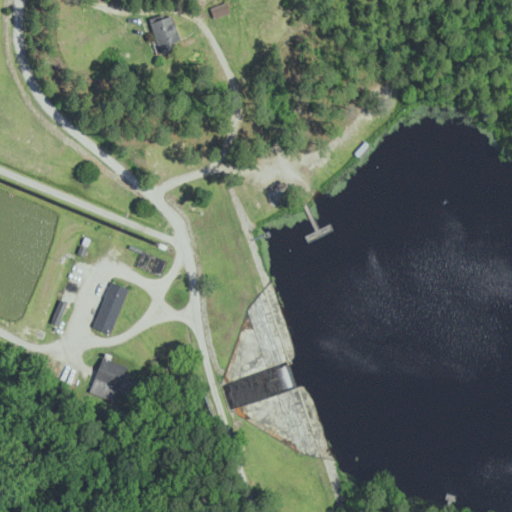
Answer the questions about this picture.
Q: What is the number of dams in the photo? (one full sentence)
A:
In total, 1 dam can be seen.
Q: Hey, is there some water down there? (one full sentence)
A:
Yes, some water is visible.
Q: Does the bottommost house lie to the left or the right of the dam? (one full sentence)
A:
Relative to the dam, the bottommost house is on the left.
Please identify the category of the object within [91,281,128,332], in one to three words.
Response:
building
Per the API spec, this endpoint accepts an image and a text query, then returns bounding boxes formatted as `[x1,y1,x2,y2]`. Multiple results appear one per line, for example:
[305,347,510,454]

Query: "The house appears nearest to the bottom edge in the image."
[86,356,127,400]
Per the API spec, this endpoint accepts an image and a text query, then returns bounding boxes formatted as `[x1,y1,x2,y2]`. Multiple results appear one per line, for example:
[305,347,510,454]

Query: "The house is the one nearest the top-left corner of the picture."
[146,14,181,51]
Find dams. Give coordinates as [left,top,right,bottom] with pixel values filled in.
[223,283,331,458]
